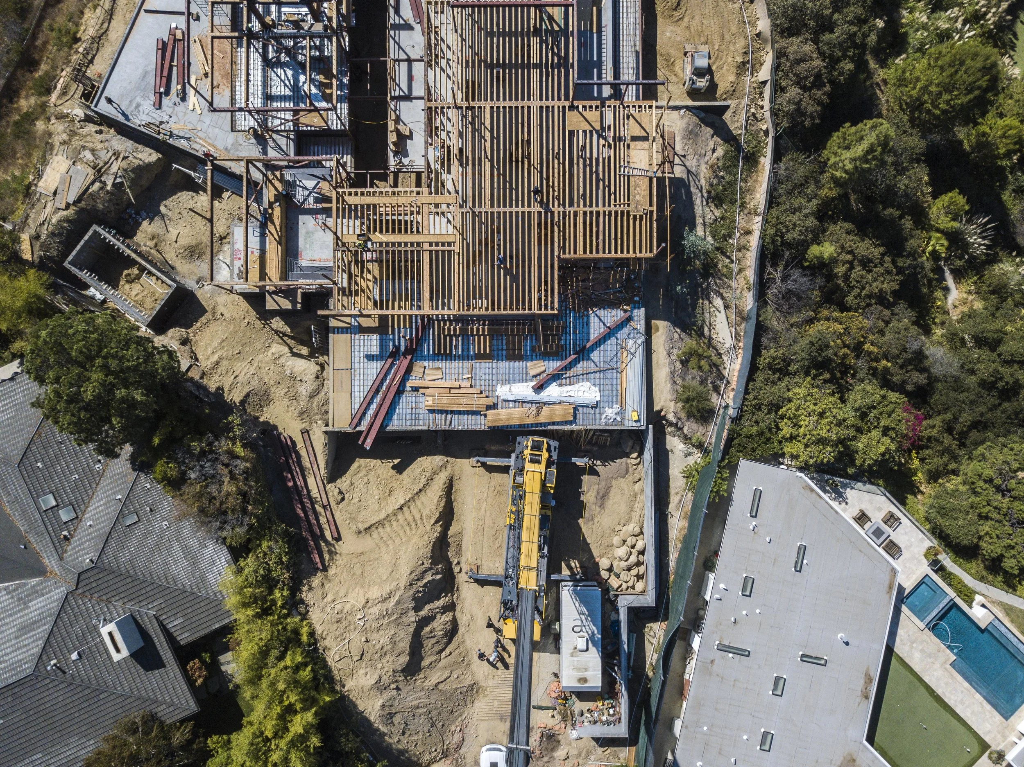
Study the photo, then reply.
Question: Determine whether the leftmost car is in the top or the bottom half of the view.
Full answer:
The leftmost car is in the bottom half of the image.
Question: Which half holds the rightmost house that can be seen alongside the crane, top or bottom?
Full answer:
The rightmost house that can be seen alongside the crane is in the bottom half of the image.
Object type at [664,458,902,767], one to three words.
house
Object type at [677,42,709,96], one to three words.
work vehicle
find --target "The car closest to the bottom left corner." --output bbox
[480,740,507,767]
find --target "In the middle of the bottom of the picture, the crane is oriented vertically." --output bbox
[465,435,591,767]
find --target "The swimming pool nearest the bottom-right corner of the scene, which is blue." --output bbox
[926,601,1024,721]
